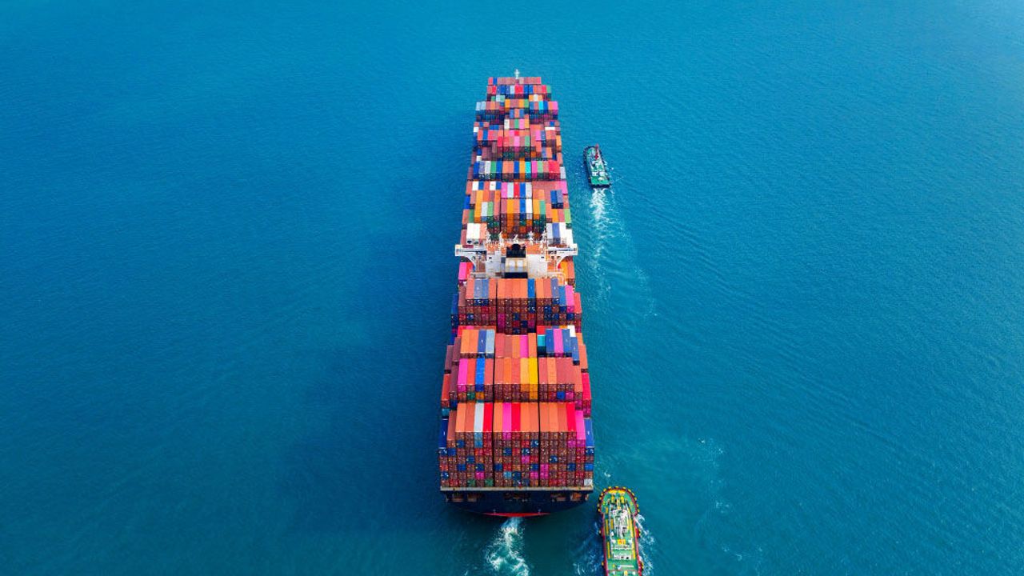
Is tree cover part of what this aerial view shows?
No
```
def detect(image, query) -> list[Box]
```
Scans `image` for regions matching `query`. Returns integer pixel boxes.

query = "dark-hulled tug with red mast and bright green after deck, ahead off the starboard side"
[583,142,613,187]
